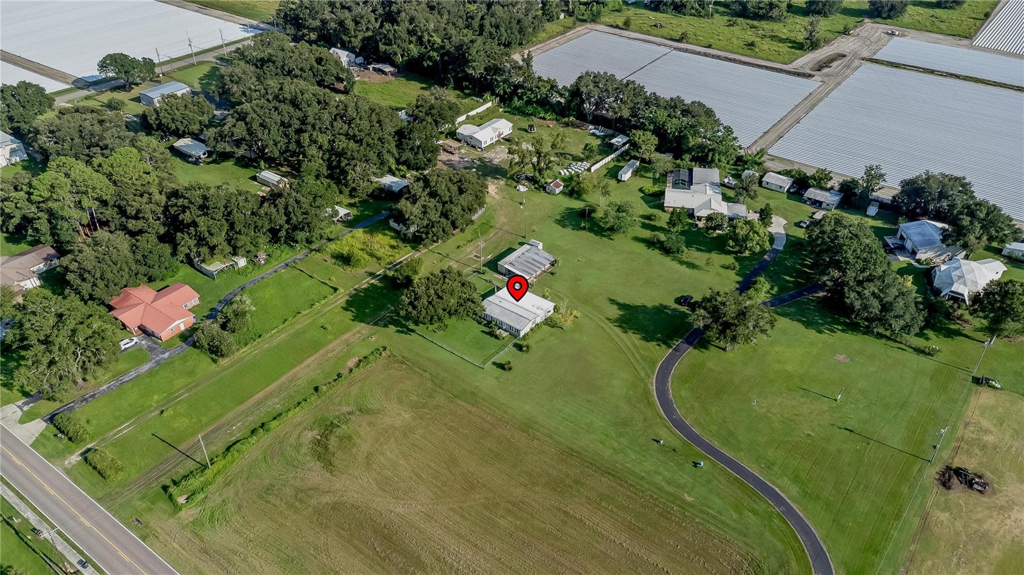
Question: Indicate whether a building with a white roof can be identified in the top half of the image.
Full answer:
Yes, a building with a white roof appears in the top half of the image.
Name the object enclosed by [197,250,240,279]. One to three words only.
shed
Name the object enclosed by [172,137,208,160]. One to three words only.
house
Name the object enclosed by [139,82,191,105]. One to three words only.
building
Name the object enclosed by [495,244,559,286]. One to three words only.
barn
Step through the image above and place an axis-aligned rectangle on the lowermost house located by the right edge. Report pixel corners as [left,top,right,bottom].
[925,253,1015,304]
